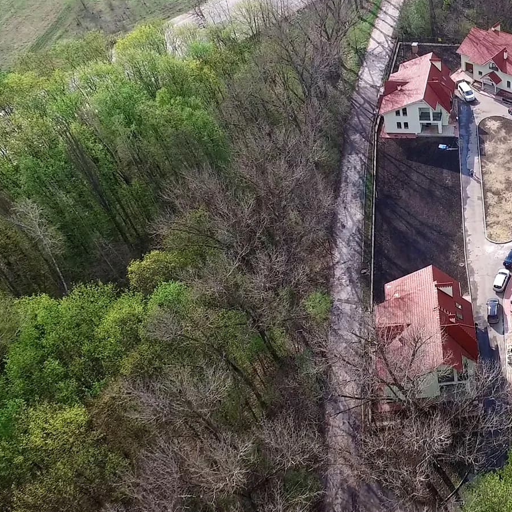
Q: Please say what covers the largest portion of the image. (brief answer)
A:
trees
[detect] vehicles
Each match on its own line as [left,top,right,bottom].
[493,272,509,290]
[458,81,472,98]
[488,300,501,322]
[503,251,512,267]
